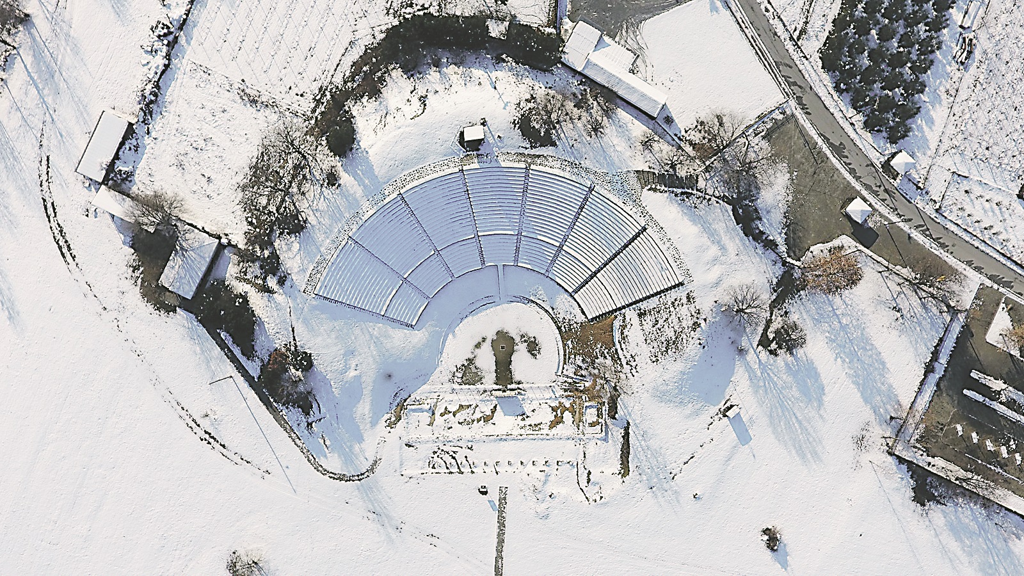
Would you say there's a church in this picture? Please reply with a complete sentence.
No, I find no church anywhere in the image.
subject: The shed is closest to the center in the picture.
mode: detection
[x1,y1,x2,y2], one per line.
[458,126,485,156]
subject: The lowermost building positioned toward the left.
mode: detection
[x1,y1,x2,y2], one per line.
[159,235,222,299]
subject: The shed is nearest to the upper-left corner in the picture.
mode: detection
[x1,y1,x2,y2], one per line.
[76,111,133,183]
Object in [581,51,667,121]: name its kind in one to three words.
barn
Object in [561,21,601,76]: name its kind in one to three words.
house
